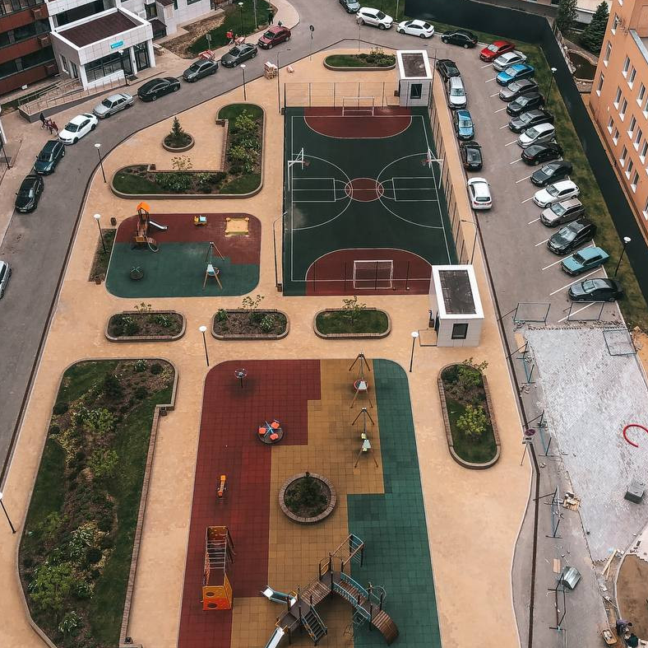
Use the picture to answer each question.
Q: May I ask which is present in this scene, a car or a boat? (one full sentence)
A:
There is a car in the scene.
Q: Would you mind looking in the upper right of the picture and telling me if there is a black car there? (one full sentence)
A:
Yes, a black car is visible in the upper right of the picture.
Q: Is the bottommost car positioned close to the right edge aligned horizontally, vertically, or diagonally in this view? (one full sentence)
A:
What the image shows is the bottommost car positioned close to the right edge lying horizontally.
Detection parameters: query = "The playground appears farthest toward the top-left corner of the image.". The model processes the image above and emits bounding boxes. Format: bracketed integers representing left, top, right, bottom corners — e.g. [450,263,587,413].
[104,212,262,298]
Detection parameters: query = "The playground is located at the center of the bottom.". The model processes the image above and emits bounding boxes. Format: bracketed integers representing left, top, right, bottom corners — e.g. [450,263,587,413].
[175,358,443,648]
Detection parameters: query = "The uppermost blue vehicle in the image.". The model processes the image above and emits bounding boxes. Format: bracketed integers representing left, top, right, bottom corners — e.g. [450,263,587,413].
[498,61,534,84]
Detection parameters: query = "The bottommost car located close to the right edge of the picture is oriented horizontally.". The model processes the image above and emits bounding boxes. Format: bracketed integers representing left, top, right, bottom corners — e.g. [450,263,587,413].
[566,278,627,307]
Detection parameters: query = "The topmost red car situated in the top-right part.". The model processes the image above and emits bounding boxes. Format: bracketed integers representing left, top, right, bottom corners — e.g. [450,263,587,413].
[478,40,517,62]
